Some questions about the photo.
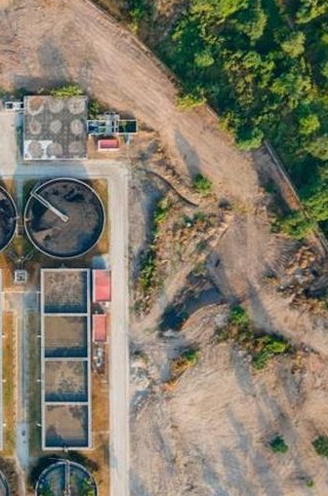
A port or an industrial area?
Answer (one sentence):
What you see here is an industrial area.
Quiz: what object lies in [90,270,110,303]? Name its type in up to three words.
shed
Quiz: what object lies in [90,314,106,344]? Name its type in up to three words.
shed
